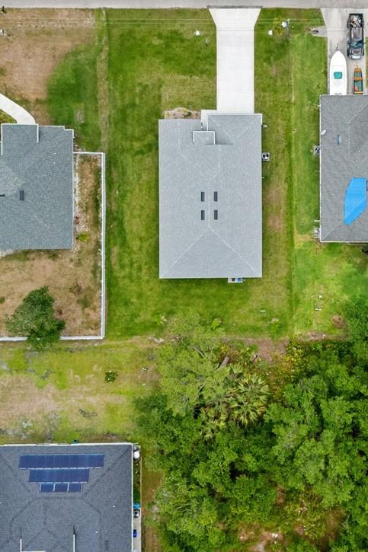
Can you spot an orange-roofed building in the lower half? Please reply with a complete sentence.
No, there is no orange-roofed building in the lower half.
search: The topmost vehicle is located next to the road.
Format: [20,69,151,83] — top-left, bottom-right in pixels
[348,10,366,57]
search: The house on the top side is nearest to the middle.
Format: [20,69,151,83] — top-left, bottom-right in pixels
[158,113,263,278]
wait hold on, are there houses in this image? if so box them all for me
[158,113,263,278]
[0,123,75,250]
[0,441,133,552]
[319,94,368,242]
